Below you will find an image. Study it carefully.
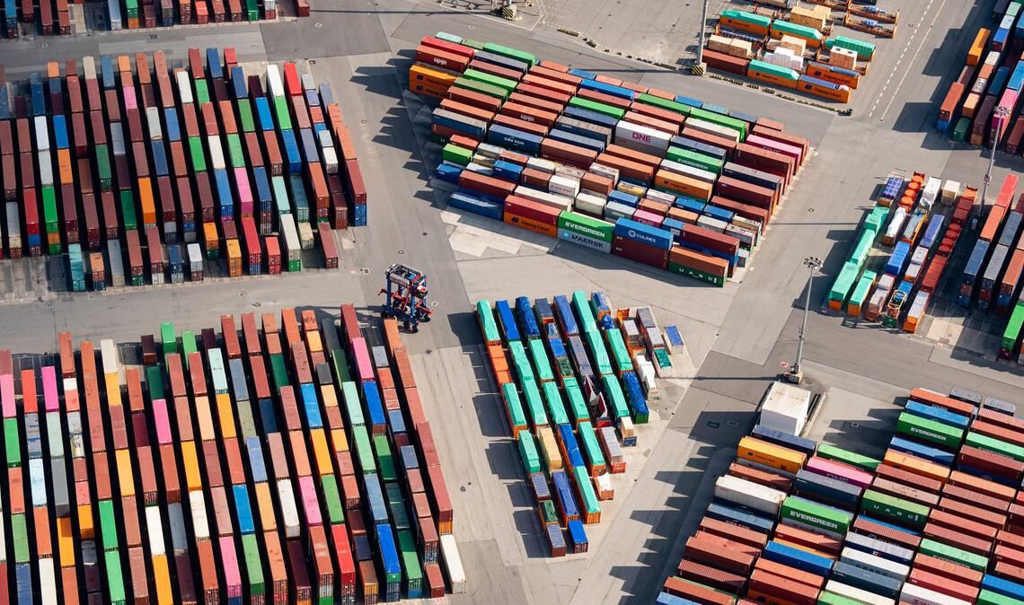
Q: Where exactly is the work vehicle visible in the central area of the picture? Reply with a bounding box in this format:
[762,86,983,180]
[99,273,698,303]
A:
[379,265,435,332]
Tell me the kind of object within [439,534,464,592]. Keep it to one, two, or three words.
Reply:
shipping container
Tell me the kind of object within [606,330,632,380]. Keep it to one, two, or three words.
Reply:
shipping container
